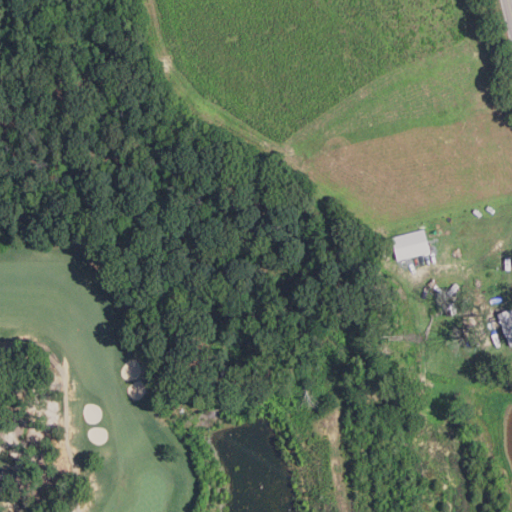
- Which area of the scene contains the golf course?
bottom left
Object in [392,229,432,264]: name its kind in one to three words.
barn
